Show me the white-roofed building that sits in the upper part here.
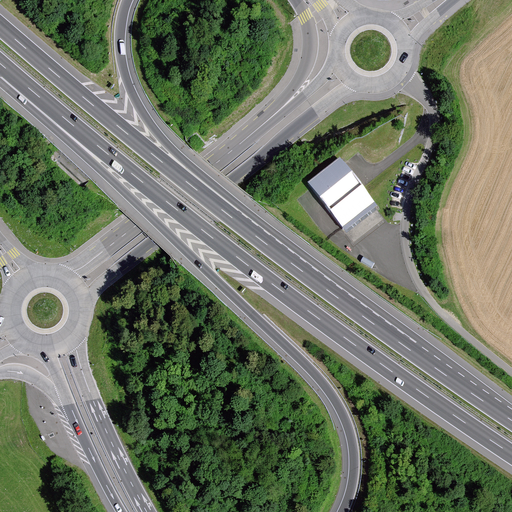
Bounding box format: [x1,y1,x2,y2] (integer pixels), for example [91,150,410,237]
[308,158,378,232]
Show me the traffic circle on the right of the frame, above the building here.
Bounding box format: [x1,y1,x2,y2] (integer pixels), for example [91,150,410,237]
[303,0,441,114]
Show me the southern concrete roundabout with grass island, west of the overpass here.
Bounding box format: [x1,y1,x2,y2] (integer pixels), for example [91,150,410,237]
[0,232,126,406]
